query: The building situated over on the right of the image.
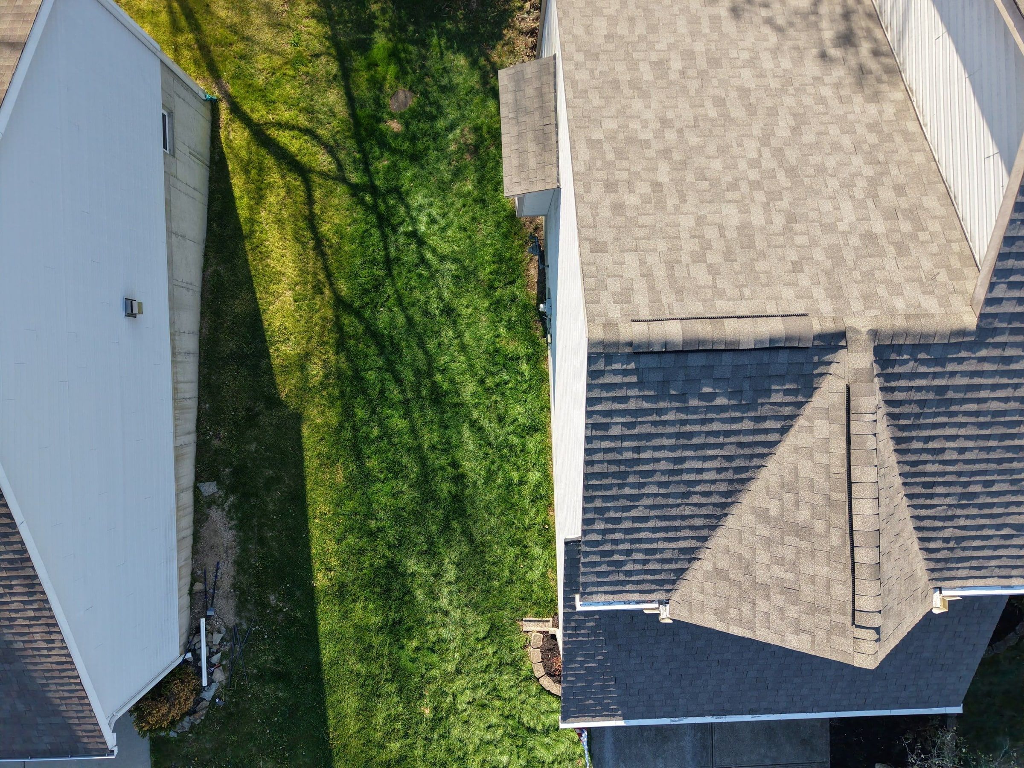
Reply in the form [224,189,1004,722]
[497,0,1024,732]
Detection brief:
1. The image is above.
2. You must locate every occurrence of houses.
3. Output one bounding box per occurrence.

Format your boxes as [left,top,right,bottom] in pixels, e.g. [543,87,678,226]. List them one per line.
[0,0,208,754]
[497,0,1024,732]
